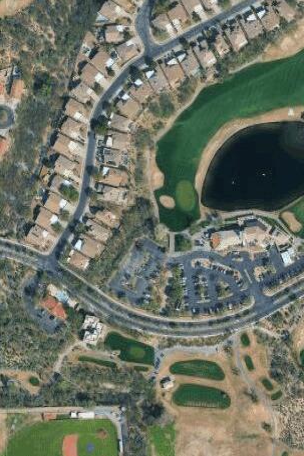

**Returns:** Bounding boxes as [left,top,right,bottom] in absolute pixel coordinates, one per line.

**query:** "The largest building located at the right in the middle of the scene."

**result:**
[209,228,291,251]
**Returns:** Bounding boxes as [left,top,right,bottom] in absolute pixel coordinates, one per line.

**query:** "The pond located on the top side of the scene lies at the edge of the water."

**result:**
[201,121,304,212]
